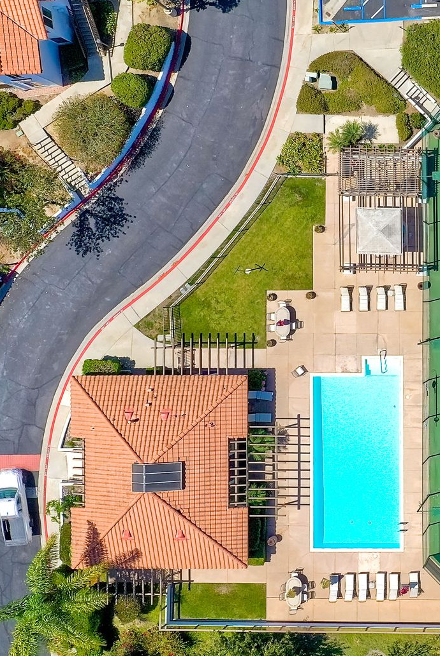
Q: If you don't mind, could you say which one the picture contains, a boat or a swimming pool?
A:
swimming pool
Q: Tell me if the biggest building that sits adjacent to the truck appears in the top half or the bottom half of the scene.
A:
bottom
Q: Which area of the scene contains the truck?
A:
bottom left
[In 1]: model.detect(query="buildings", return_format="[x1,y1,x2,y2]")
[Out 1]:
[68,373,249,571]
[0,0,68,88]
